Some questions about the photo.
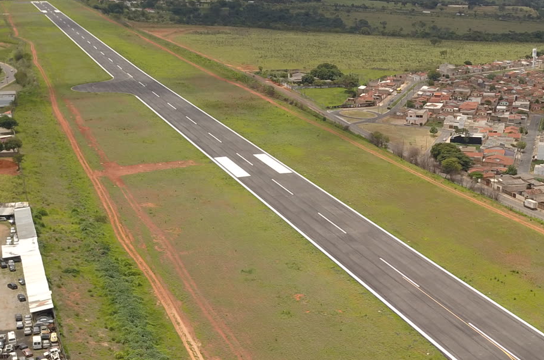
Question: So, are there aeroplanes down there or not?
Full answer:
No, there appears to be no aeroplane in this shot.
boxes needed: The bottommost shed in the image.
[21,255,54,320]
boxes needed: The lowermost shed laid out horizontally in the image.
[1,237,39,259]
